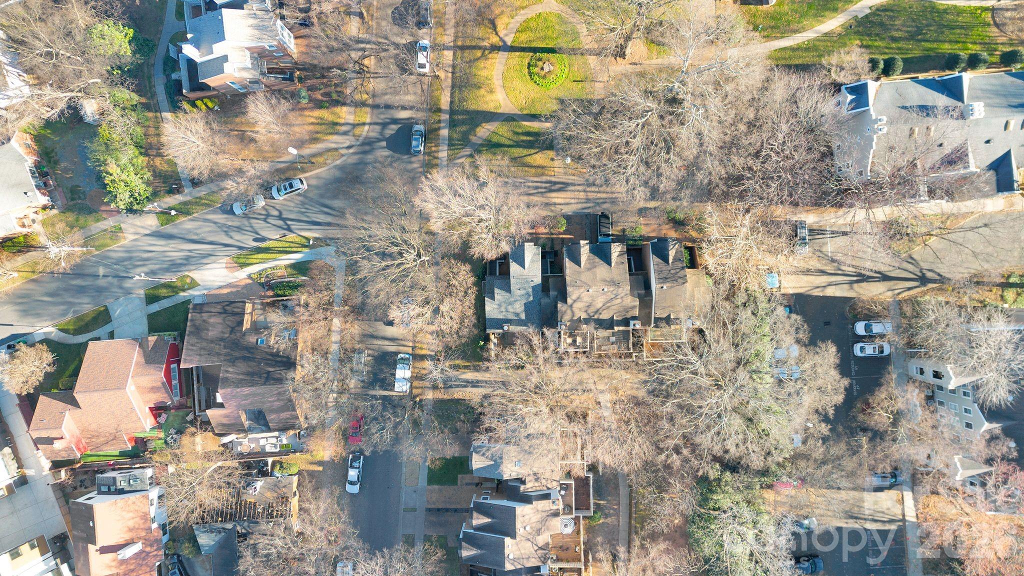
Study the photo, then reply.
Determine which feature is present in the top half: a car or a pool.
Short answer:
car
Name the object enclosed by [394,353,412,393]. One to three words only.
vehicle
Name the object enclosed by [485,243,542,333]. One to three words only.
house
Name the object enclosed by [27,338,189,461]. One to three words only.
house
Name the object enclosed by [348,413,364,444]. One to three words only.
car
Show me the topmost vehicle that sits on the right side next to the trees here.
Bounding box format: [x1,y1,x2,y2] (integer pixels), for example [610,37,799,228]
[793,221,811,256]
